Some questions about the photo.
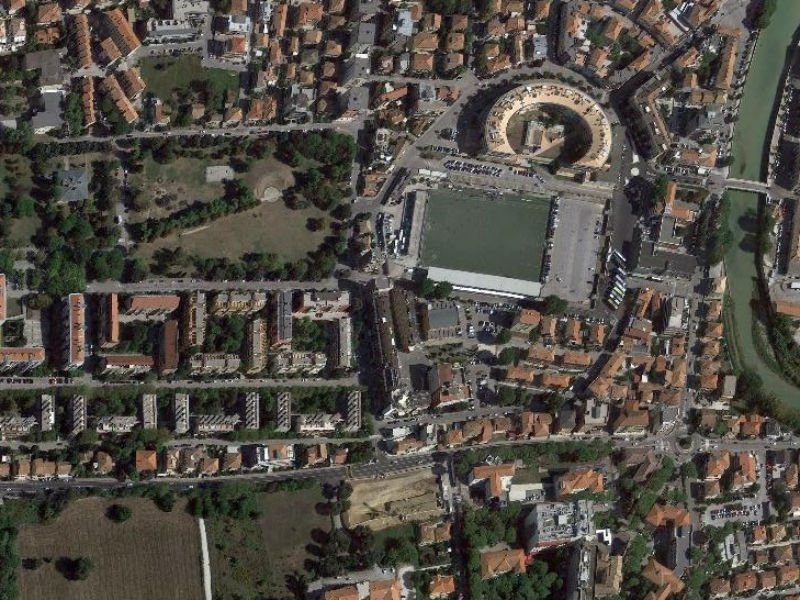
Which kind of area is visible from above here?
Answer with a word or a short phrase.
residential area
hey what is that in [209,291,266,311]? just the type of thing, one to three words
building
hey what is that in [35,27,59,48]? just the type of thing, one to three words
house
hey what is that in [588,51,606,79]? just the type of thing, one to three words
house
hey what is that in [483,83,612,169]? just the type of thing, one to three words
building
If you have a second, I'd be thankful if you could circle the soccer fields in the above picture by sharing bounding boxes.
[421,190,551,282]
